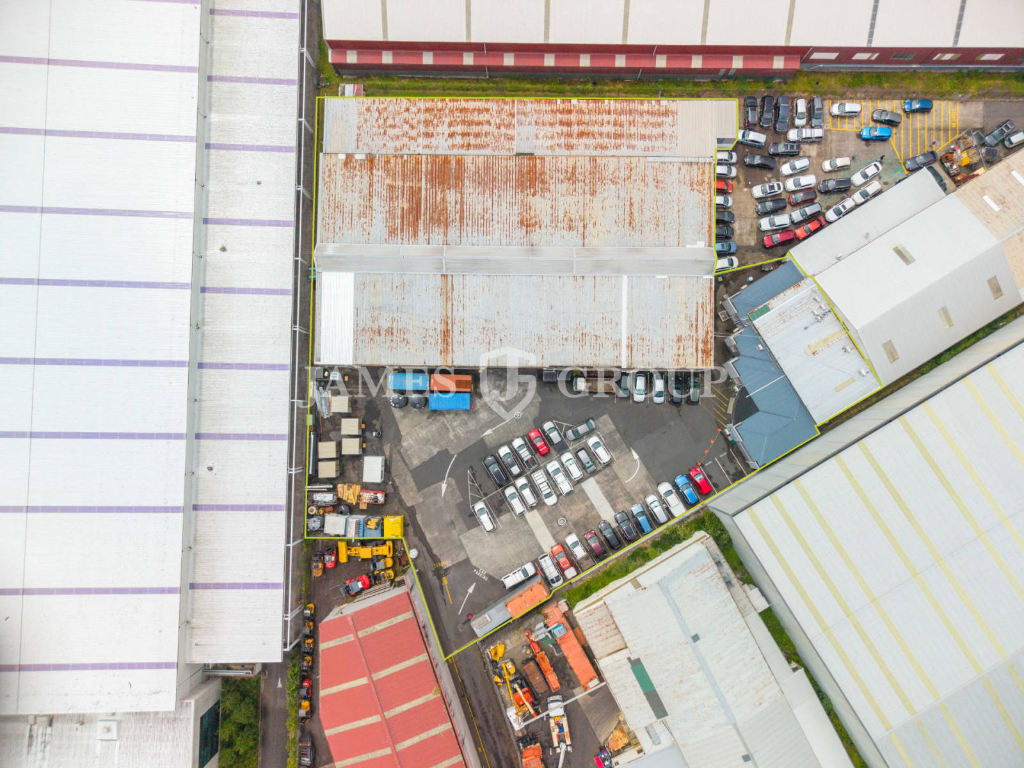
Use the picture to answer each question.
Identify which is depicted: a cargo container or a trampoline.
cargo container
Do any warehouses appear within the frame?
Yes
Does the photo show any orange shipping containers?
Yes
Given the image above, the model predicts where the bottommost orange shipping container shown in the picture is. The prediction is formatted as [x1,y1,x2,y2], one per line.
[541,595,600,688]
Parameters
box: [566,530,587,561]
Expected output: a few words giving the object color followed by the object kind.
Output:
white car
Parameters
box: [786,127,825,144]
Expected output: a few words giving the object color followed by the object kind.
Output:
white vehicle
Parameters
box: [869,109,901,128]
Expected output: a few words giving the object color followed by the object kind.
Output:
gray car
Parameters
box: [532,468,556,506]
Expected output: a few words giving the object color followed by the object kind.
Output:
white truck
